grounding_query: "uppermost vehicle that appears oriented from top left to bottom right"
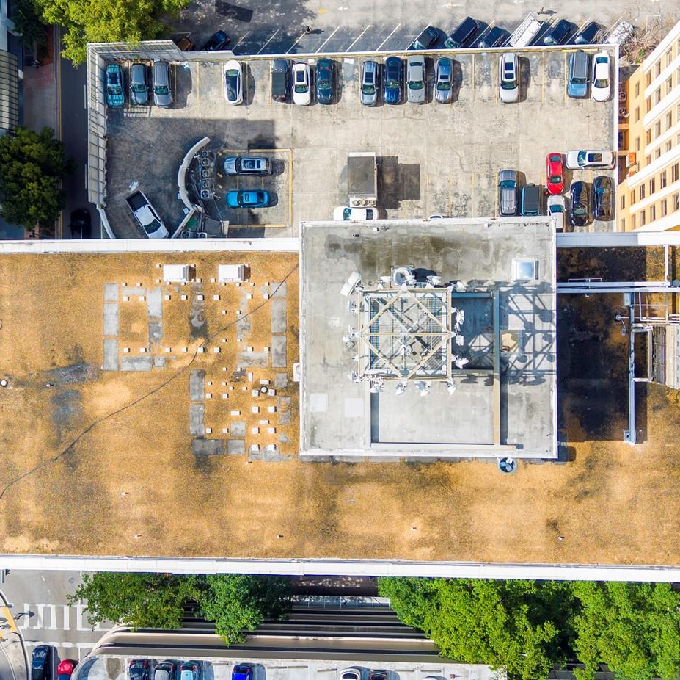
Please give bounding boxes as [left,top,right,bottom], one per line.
[126,187,170,239]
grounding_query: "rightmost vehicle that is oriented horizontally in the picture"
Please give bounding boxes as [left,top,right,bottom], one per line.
[565,148,613,171]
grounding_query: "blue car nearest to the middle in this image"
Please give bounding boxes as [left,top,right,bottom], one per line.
[226,188,271,210]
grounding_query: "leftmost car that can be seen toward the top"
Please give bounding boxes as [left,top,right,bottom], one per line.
[71,205,91,239]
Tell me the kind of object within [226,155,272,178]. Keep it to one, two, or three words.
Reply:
car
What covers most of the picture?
buildings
